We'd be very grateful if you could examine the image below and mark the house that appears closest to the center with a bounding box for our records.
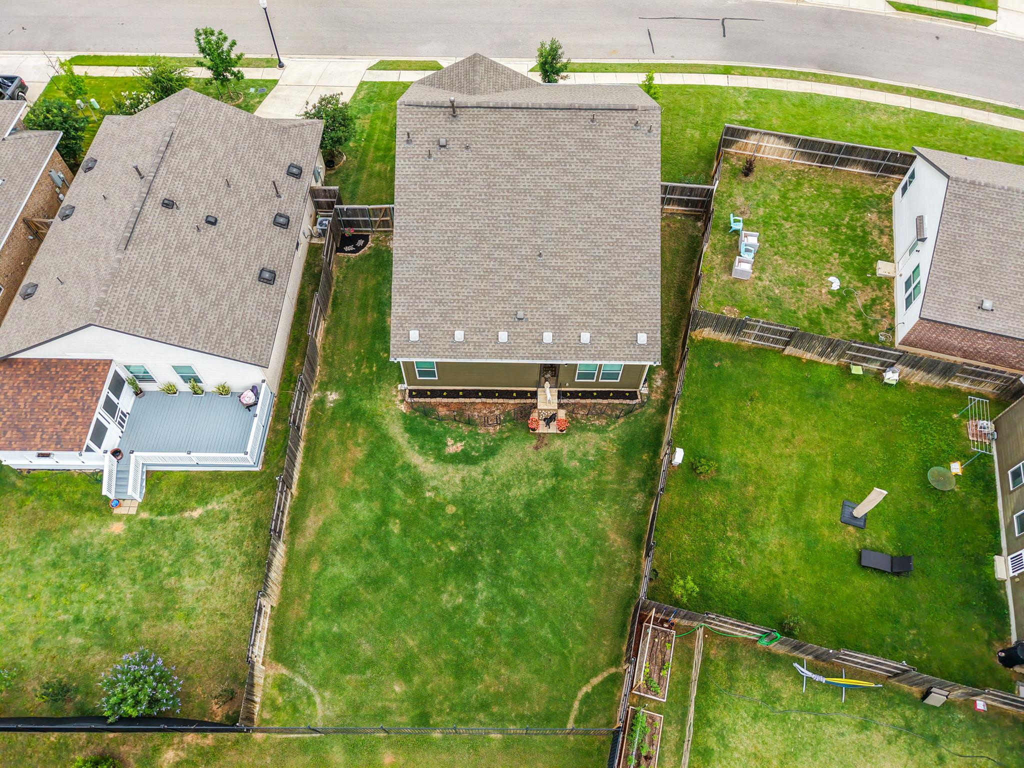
[390,50,662,396]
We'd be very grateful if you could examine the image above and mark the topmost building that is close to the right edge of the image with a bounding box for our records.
[877,146,1024,377]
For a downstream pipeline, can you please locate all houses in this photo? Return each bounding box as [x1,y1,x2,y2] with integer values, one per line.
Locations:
[992,407,1024,649]
[877,146,1024,377]
[390,50,662,396]
[0,90,323,393]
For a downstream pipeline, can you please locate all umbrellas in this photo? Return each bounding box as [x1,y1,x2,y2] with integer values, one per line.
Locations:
[841,486,888,524]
